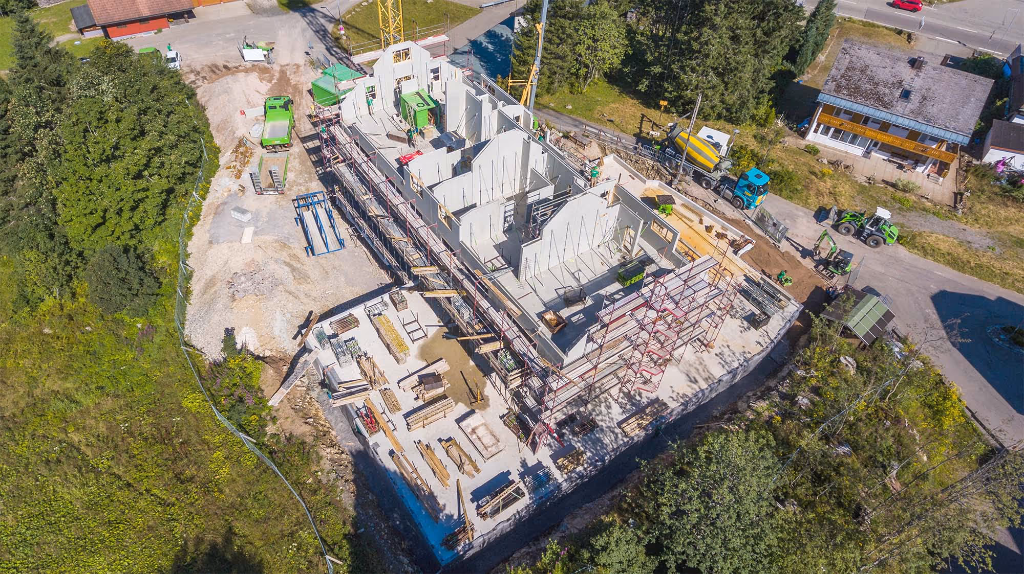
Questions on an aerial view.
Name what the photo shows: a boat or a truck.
truck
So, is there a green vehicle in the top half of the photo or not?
Yes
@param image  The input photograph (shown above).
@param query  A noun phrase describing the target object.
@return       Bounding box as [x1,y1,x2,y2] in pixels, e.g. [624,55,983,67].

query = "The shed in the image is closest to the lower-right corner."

[810,287,897,351]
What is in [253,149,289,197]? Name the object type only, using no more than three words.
trailer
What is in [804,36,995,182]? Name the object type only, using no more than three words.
house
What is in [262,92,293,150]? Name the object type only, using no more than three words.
truck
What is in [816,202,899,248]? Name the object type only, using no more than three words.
work vehicle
